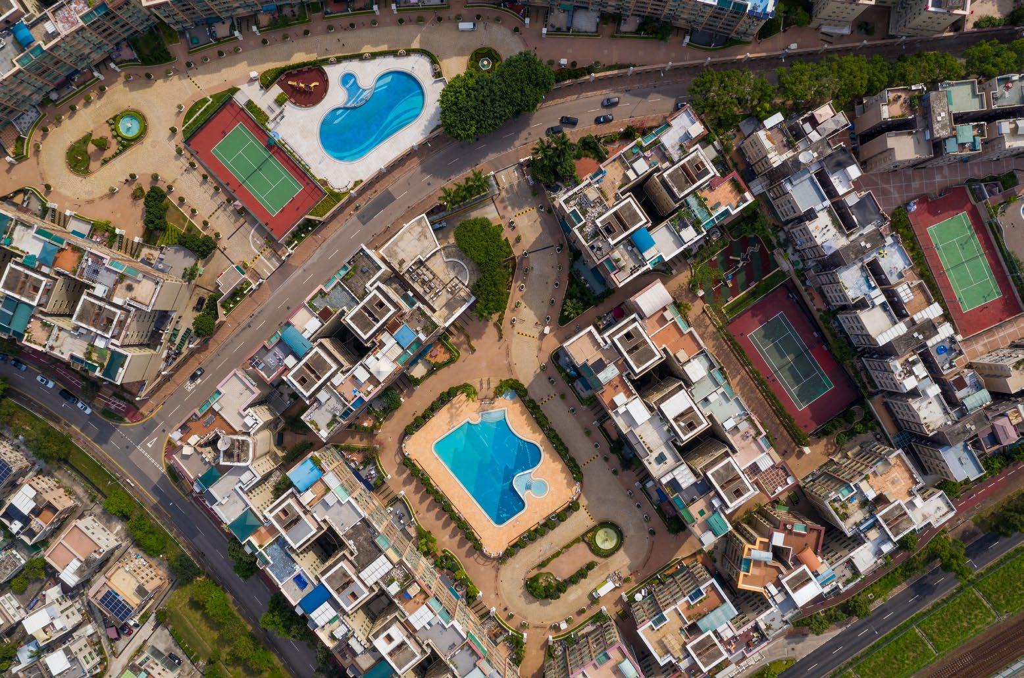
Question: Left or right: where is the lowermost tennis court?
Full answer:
You can find the lowermost tennis court on the right side of the picture.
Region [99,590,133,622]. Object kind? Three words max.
solar panel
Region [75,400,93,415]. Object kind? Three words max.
car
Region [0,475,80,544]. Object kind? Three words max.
house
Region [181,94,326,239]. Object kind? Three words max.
tennis court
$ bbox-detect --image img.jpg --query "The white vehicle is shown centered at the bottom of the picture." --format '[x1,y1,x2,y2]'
[594,578,620,598]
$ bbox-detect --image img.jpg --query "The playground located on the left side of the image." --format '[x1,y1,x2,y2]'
[276,66,328,107]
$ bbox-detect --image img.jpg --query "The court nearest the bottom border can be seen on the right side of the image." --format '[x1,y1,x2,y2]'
[728,279,865,435]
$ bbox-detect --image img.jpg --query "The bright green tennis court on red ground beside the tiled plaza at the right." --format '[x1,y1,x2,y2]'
[910,184,1024,336]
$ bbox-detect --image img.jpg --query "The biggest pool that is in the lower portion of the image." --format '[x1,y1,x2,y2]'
[402,396,583,558]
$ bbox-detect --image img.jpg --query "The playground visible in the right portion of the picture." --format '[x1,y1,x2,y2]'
[696,234,780,310]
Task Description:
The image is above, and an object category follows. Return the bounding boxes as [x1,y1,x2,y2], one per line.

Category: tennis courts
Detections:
[181,94,326,239]
[728,279,865,435]
[910,184,1024,336]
